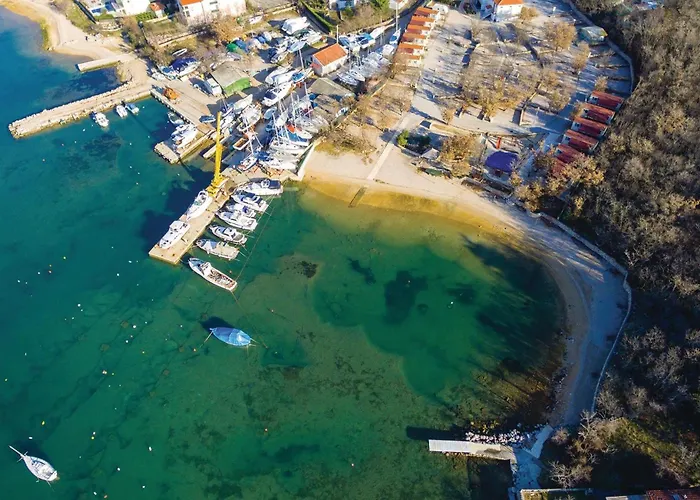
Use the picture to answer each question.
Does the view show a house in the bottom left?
No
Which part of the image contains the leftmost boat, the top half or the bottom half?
bottom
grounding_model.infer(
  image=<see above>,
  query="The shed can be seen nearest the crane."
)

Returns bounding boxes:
[211,62,251,97]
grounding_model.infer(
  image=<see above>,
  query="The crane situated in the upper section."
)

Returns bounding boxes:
[199,107,232,200]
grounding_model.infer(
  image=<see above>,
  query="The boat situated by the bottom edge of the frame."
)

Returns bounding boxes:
[14,450,65,484]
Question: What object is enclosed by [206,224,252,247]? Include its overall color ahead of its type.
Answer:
white boat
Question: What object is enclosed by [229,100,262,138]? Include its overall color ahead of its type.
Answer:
white boat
